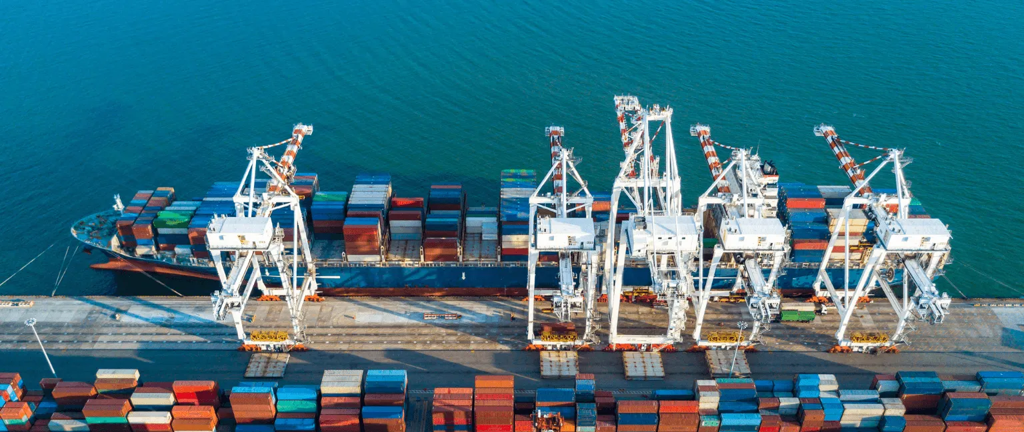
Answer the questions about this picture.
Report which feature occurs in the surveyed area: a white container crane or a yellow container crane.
white container crane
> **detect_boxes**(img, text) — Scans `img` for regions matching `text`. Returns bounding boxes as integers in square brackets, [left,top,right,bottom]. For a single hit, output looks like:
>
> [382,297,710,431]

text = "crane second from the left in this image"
[520,122,606,352]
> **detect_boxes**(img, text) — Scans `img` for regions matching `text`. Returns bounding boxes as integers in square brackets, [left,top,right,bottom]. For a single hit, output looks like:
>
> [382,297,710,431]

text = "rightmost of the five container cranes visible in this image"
[804,123,951,354]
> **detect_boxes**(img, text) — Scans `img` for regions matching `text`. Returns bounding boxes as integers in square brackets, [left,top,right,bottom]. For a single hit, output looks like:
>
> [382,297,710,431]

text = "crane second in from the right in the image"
[682,124,788,352]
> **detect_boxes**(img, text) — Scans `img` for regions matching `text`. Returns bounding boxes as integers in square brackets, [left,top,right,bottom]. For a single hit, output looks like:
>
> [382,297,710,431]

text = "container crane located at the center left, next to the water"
[204,122,323,350]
